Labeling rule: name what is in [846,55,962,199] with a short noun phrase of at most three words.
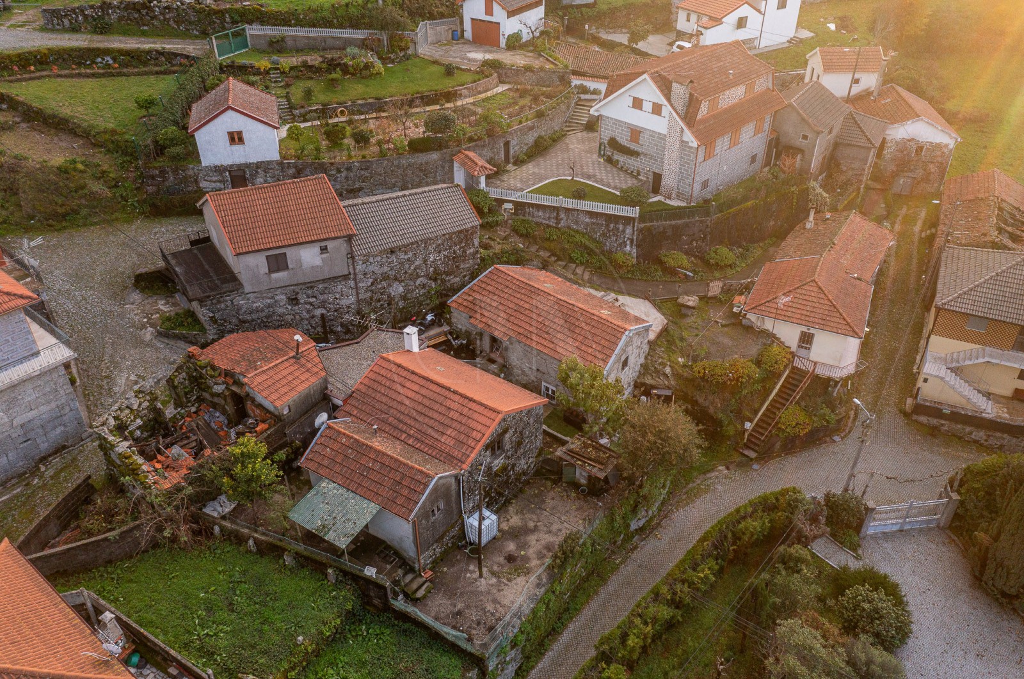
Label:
house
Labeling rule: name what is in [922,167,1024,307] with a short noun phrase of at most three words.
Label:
house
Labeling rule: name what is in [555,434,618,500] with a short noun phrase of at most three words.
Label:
shed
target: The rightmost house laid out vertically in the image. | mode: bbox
[916,190,1024,414]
